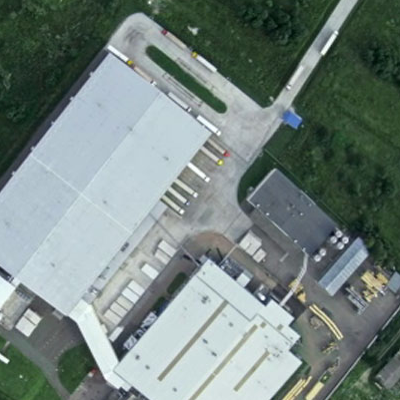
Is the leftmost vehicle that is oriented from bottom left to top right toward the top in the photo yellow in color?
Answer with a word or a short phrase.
No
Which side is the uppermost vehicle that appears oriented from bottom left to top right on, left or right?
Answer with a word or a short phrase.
right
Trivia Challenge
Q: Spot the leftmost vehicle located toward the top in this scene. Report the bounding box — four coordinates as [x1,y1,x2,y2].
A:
[109,44,134,67]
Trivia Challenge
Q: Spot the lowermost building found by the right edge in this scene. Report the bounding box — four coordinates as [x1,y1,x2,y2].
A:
[376,358,400,388]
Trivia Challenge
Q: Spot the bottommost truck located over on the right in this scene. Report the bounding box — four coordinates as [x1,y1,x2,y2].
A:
[305,376,328,400]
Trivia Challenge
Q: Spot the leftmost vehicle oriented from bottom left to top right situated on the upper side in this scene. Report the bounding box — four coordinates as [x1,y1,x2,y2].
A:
[286,64,305,90]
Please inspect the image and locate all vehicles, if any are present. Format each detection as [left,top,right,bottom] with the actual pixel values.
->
[200,145,225,166]
[319,30,340,55]
[132,64,156,86]
[161,195,185,215]
[305,376,328,400]
[186,162,211,184]
[167,91,192,113]
[206,137,230,158]
[161,28,188,51]
[191,51,218,73]
[174,178,200,199]
[326,340,338,352]
[196,114,223,137]
[109,44,134,67]
[286,64,305,90]
[168,186,192,207]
